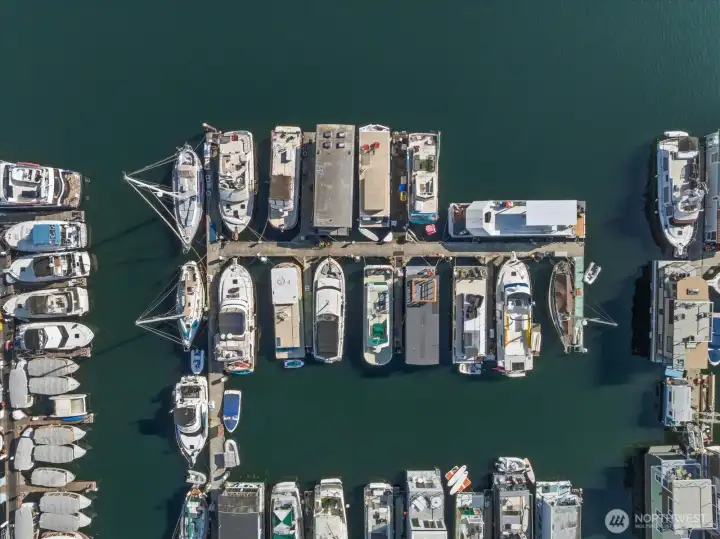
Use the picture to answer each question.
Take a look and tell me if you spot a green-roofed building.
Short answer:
No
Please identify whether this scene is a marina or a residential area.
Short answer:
marina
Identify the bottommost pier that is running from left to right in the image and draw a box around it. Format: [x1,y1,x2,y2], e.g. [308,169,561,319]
[14,481,96,494]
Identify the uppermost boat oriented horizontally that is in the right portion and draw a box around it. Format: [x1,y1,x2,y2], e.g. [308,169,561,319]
[444,200,586,243]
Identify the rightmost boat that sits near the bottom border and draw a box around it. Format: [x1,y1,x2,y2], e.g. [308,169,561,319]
[641,444,720,539]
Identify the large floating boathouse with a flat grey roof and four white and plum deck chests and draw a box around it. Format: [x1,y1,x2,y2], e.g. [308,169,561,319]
[313,124,356,243]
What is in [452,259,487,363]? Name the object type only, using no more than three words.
boat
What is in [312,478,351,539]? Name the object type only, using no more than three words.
boat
